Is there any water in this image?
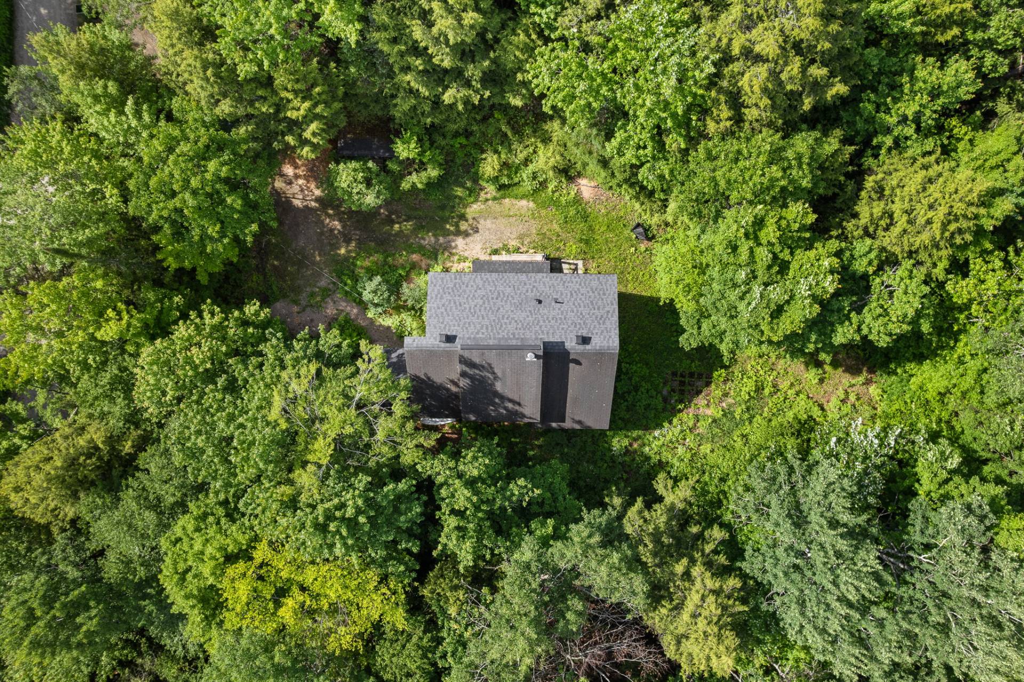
No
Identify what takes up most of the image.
trees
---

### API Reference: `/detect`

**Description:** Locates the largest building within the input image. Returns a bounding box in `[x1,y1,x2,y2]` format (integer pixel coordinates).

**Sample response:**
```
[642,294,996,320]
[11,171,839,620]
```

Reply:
[383,253,620,430]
